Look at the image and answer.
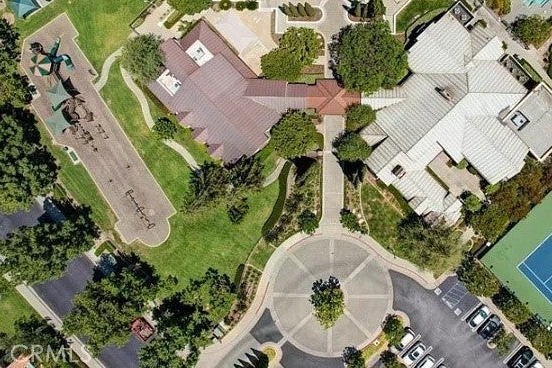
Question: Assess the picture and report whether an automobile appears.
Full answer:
Yes, an automobile can be made out from above.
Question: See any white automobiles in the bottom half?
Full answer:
Yes, looking in the bottom half, one can make out a white automobile.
